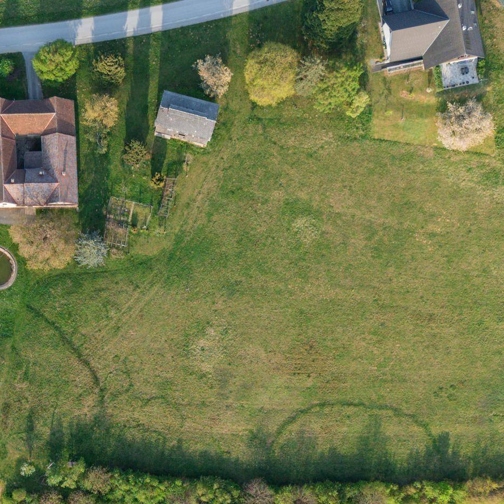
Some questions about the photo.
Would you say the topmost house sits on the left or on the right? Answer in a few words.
right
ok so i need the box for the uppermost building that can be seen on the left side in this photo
[154,90,219,146]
